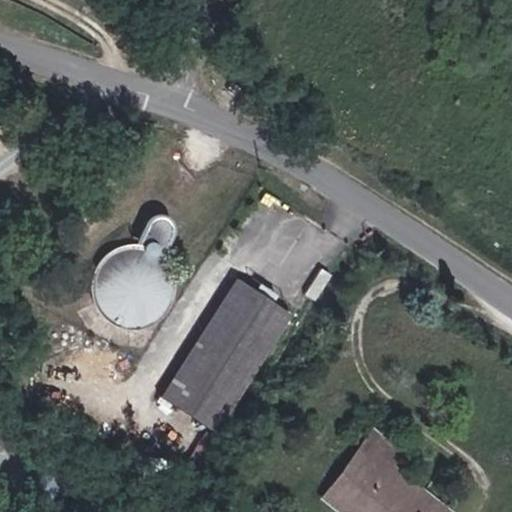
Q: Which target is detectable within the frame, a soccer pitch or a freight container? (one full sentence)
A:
Looking from above, you can make out a freight container.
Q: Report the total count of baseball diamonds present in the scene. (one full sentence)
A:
The photo contains no baseball diamonds.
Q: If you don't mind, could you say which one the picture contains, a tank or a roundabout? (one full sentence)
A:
This aerial view contains a tank.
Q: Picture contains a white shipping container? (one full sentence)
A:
Yes, there's a white shipping container down there.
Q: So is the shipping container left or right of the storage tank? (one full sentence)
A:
Compared with the storage tank, the shipping container is located further to the right.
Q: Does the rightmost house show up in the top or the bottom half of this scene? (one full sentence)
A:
The bottom half of the photo is where the rightmost house is.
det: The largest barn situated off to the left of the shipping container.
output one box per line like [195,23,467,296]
[162,270,290,430]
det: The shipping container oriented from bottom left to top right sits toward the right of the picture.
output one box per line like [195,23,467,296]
[305,268,332,300]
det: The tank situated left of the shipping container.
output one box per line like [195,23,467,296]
[92,214,177,338]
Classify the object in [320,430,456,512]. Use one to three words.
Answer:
house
